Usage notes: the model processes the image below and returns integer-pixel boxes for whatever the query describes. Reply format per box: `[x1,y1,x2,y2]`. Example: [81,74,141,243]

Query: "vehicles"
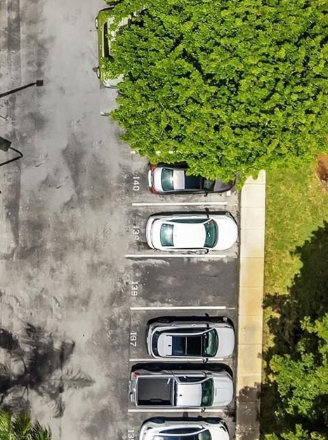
[136,410,233,440]
[143,210,238,256]
[143,314,237,365]
[144,159,236,202]
[125,362,236,416]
